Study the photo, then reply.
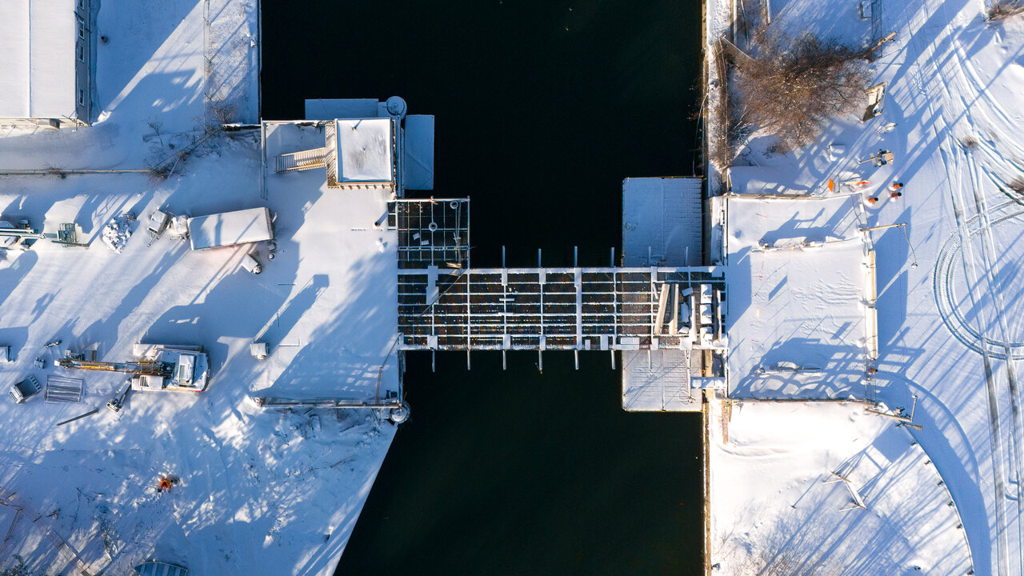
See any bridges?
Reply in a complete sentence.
Yes, this view includes a bridge.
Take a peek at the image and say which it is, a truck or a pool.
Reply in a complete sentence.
The one in the frame is a truck.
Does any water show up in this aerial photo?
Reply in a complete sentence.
Yes, water shows up in the scene.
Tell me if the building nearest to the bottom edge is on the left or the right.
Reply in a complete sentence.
It is on the left.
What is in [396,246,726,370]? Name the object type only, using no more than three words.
bridge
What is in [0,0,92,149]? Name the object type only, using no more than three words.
shed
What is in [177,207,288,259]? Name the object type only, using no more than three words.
truck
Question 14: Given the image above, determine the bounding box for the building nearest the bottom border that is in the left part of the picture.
[271,118,396,189]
